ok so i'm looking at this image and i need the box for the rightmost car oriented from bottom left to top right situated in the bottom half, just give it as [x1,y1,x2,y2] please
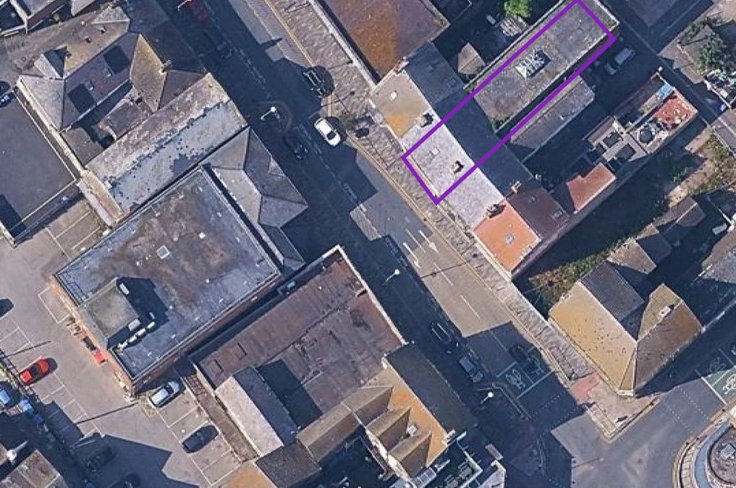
[180,422,218,454]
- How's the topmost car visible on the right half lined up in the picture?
at an angle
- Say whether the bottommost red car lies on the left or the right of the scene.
left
